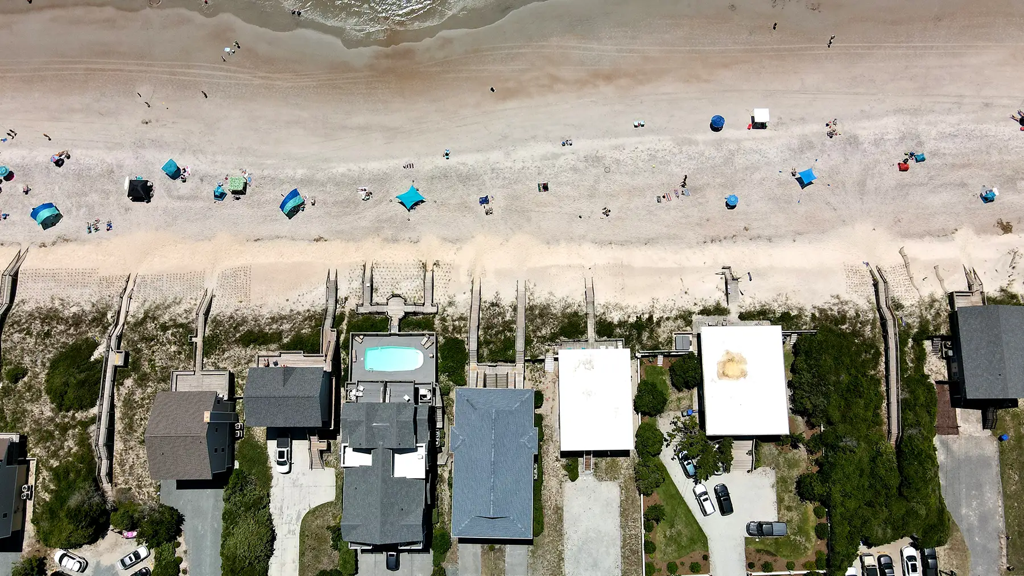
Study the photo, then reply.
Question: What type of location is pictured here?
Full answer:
This image shows a residential area.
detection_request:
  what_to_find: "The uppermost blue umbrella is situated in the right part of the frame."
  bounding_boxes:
[711,115,724,128]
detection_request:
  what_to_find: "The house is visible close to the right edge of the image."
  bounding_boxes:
[944,305,1024,398]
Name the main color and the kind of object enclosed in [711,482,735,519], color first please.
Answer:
black car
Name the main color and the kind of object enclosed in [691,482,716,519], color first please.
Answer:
white car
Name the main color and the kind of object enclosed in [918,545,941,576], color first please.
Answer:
black truck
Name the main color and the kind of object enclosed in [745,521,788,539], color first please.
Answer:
gray vehicle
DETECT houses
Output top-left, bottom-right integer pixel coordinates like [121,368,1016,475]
[693,326,790,436]
[340,379,434,550]
[145,391,239,479]
[558,348,634,452]
[448,388,540,539]
[244,367,332,427]
[0,438,30,539]
[944,305,1024,398]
